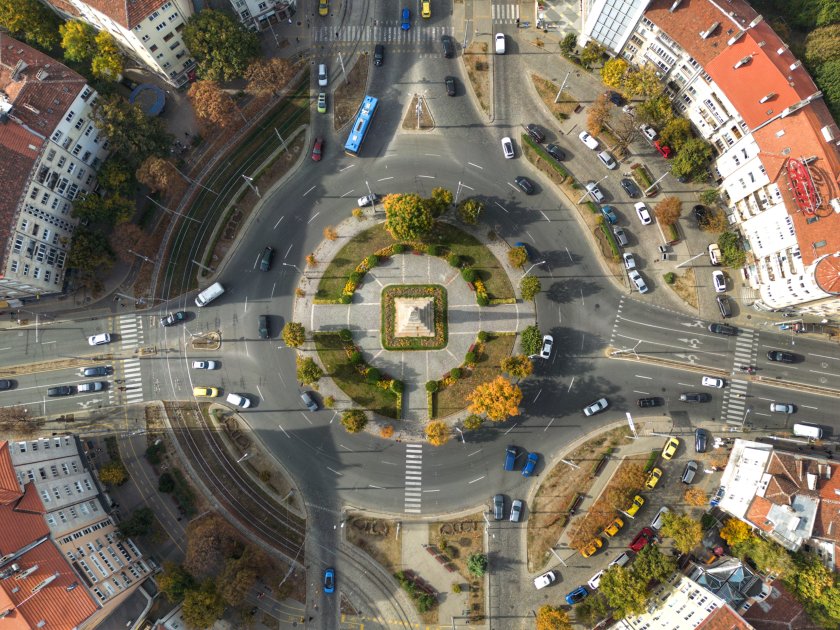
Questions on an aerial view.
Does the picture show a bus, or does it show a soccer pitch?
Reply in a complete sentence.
The one in the frame is a bus.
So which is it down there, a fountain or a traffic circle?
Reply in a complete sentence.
Visible in the photo is a traffic circle.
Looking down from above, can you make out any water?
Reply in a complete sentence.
No, the picture contains no water.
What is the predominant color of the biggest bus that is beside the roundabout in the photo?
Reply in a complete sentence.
The biggest bus that is beside the roundabout is blue.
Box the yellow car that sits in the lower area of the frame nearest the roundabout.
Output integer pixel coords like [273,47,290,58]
[194,386,219,399]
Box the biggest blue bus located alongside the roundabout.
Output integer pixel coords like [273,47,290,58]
[340,95,383,161]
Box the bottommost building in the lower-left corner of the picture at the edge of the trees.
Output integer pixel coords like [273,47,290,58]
[0,515,157,630]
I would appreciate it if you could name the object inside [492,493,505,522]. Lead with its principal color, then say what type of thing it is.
gray vehicle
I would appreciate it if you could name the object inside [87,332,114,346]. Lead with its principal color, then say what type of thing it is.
white vehicle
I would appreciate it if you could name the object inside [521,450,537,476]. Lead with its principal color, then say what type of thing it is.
blue car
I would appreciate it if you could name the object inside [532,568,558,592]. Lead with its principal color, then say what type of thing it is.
white vehicle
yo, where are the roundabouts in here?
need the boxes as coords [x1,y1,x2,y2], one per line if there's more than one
[212,128,618,530]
